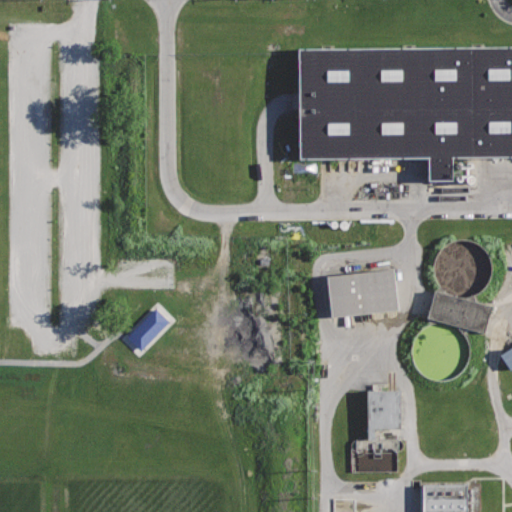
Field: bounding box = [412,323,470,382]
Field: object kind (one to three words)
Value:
storage tank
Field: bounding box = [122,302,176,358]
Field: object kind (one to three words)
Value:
building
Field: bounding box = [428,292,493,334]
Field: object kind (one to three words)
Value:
building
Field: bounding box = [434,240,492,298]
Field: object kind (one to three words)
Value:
storage tank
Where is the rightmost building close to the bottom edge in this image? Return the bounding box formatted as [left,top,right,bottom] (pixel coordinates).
[423,484,468,512]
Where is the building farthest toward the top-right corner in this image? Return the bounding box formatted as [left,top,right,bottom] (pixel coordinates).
[300,46,512,182]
